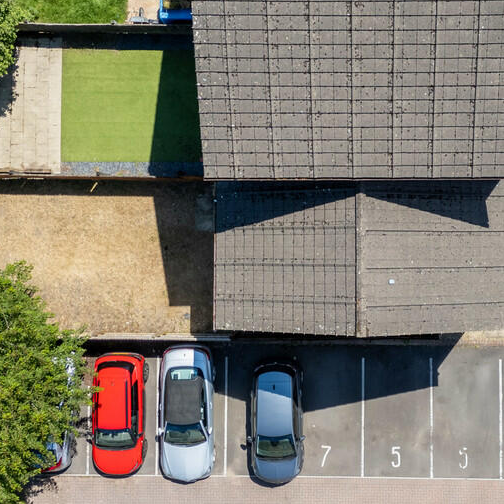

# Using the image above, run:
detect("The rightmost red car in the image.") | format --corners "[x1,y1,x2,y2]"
[87,351,149,477]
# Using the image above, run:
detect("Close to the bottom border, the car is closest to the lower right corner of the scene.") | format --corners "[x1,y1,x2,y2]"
[246,359,309,486]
